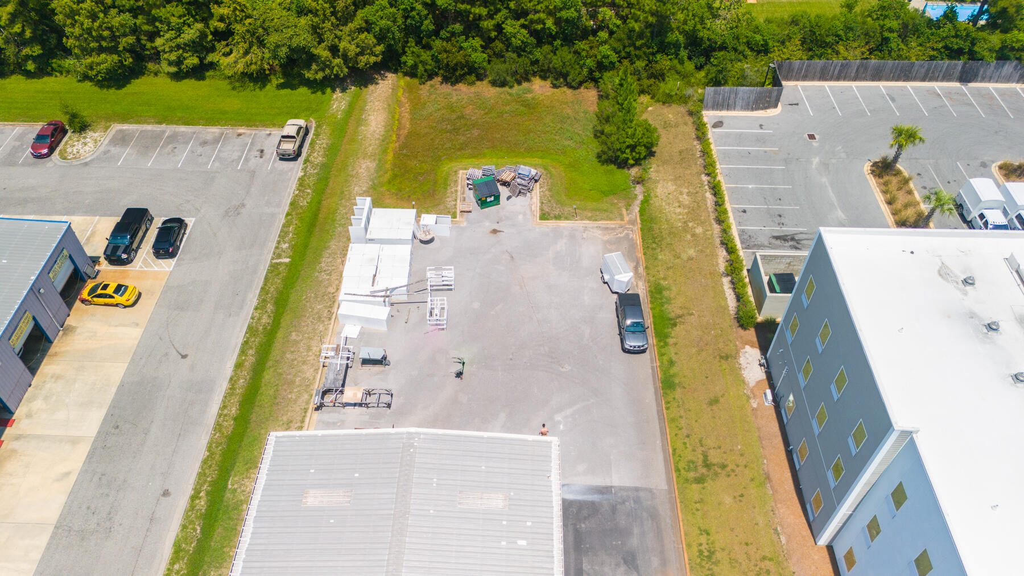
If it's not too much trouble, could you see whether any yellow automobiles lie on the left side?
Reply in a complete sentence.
Yes, the scene does show a yellow automobile on the left side.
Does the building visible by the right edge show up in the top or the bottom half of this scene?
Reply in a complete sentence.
The building visible by the right edge is in the bottom half of the image.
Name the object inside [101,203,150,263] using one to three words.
truck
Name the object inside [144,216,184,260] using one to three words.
car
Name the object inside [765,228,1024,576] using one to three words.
building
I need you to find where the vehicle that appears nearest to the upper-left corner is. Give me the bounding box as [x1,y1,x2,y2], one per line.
[25,120,65,157]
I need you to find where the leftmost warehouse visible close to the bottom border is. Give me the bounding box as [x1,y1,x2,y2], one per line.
[231,430,566,576]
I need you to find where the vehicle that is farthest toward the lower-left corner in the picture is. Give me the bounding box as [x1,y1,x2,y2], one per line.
[72,277,141,307]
